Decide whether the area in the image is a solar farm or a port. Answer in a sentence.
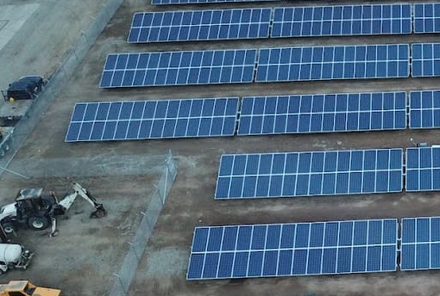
The picture captures a solar farm.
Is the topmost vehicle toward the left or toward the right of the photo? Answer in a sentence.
The topmost vehicle sits on the left side.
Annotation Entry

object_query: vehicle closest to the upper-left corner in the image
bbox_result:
[4,69,47,99]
